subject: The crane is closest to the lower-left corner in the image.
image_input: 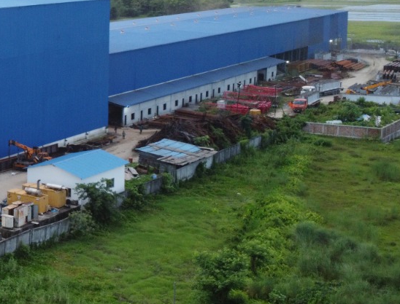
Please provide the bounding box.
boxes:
[9,140,52,166]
